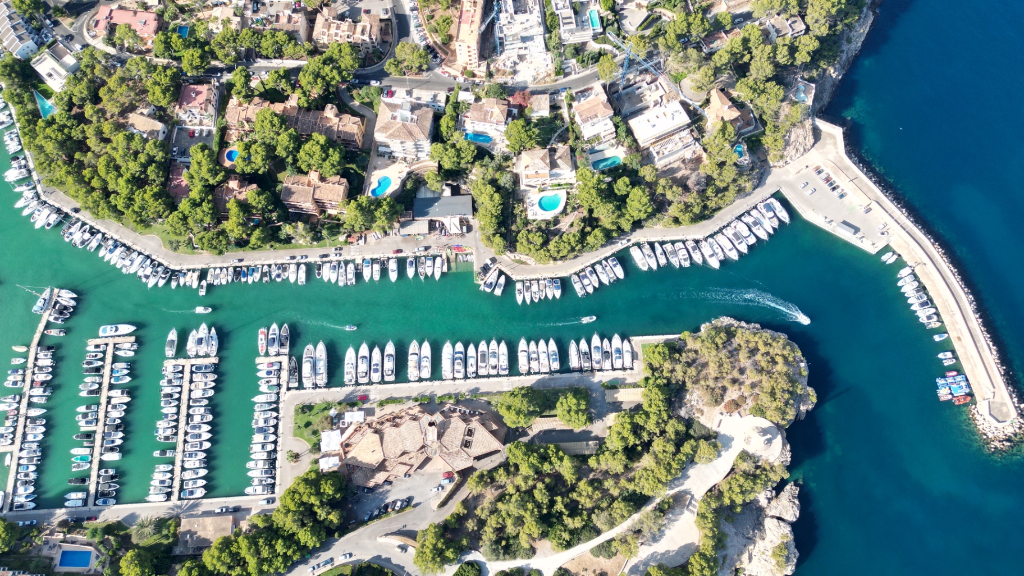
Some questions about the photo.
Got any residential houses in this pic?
Yes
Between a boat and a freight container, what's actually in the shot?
boat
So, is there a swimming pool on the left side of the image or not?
Yes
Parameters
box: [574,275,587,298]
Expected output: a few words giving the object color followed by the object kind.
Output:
white boat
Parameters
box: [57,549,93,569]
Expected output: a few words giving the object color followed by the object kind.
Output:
blue swimming pool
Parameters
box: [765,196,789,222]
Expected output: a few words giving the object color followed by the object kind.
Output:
white boat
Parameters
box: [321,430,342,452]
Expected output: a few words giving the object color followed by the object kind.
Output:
white tent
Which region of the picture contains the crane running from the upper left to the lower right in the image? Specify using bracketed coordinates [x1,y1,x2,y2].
[610,30,709,129]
